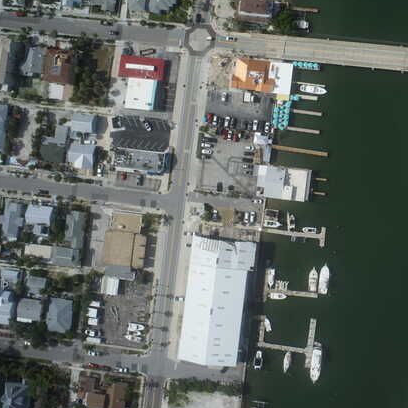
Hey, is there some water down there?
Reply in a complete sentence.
Yes, water shows up in the scene.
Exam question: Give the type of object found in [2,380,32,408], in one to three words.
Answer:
house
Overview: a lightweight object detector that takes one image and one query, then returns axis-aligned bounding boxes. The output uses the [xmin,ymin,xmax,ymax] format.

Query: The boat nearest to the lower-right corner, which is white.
[310,343,323,382]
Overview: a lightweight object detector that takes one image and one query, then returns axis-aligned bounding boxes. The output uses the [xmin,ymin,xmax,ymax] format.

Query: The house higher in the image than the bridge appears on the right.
[236,0,275,25]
